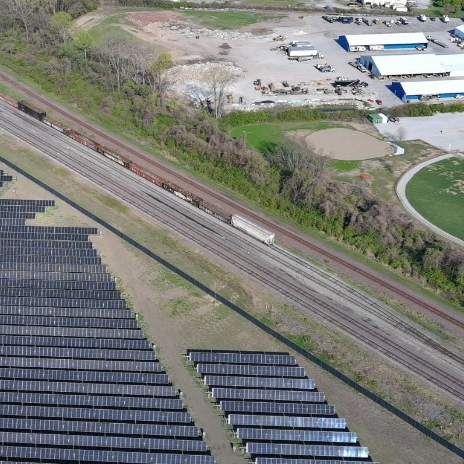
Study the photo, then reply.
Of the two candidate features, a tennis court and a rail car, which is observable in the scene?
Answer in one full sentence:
It is a rail car that can be seen here.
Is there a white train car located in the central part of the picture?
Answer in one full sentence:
Yes, a white train car is visible in the central part of the picture.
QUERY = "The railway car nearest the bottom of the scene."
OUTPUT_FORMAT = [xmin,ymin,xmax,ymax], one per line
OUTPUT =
[234,215,275,245]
